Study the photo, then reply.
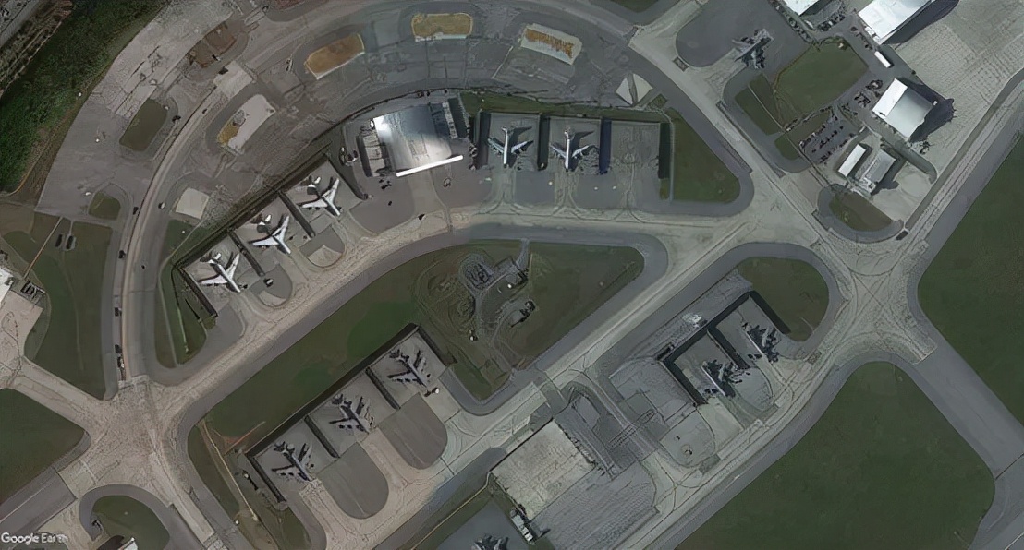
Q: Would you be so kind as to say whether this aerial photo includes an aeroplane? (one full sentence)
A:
Yes, there is an aeroplane in the image.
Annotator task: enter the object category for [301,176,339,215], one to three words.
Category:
airplane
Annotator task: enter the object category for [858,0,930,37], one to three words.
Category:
hangar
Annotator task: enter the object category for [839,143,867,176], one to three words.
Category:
building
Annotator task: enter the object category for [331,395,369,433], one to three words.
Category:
airplane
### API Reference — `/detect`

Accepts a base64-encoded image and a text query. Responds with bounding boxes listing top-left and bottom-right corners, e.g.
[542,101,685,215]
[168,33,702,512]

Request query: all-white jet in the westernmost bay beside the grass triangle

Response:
[201,253,239,292]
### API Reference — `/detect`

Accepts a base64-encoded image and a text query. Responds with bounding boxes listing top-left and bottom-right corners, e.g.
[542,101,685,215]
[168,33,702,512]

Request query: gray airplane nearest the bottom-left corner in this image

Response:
[273,444,310,482]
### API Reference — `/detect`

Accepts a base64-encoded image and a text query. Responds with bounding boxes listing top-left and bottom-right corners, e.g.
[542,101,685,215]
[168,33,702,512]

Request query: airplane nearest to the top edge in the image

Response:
[735,24,772,60]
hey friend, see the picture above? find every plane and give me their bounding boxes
[735,24,772,60]
[733,321,767,359]
[273,444,310,482]
[301,176,339,215]
[692,359,727,396]
[252,214,290,253]
[487,128,525,167]
[331,395,369,433]
[389,349,427,387]
[548,131,587,170]
[201,253,239,292]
